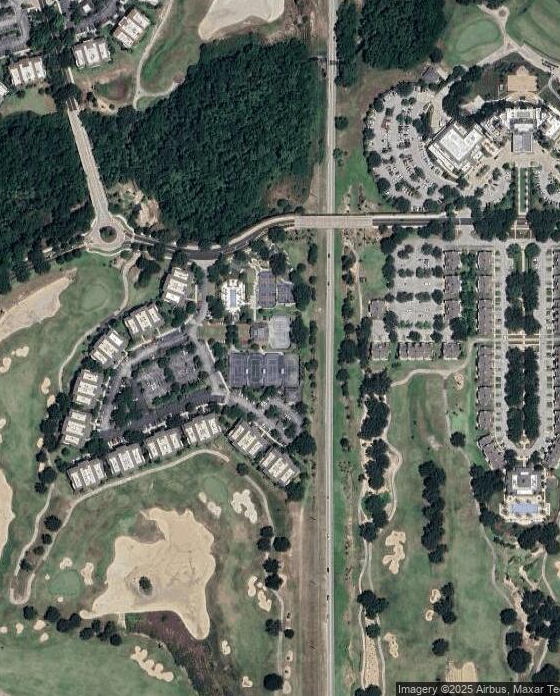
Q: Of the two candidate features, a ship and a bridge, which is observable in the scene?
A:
bridge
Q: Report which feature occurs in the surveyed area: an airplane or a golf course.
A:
golf course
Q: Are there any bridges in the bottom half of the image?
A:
No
